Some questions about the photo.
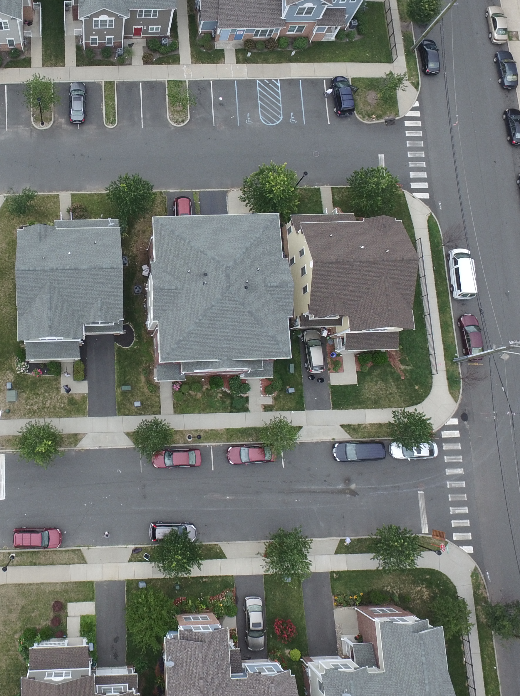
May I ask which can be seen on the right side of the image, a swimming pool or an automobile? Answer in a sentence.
Visible on the right side of the image is an automobile.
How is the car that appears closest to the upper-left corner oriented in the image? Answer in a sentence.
In this picture, the car that appears closest to the upper-left corner lies vertically.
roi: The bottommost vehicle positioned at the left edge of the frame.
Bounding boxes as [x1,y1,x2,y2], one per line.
[13,526,62,551]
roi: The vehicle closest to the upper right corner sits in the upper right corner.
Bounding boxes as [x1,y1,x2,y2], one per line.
[484,6,510,45]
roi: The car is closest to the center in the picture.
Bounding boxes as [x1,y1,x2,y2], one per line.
[302,330,326,373]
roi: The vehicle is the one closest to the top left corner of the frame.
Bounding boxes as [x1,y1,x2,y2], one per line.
[68,82,87,125]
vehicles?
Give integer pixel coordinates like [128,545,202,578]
[226,444,278,466]
[13,526,62,551]
[302,330,326,373]
[418,39,441,76]
[494,51,520,91]
[387,441,440,462]
[152,449,202,470]
[503,109,520,146]
[173,193,192,216]
[68,82,87,125]
[243,596,269,651]
[458,315,487,361]
[331,439,388,463]
[325,77,362,117]
[449,249,481,300]
[484,6,510,45]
